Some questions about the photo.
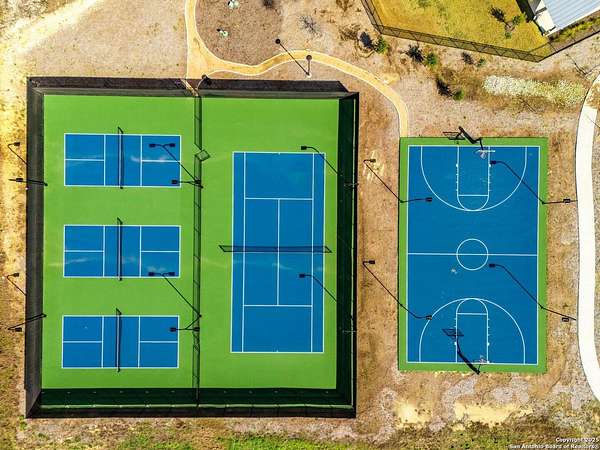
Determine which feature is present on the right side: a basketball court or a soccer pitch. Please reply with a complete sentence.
The one visible on the right side is a basketball court.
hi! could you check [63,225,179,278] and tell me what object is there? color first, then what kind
blue sports court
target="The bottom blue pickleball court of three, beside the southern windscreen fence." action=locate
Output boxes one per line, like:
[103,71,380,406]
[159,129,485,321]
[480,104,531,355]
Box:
[63,316,178,370]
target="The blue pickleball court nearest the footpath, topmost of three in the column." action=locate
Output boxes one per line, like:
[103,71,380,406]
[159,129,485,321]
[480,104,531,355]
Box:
[64,134,180,187]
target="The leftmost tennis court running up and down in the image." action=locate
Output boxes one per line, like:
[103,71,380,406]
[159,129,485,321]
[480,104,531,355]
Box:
[231,151,325,353]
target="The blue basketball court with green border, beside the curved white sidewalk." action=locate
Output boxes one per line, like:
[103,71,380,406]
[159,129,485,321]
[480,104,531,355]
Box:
[398,136,548,373]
